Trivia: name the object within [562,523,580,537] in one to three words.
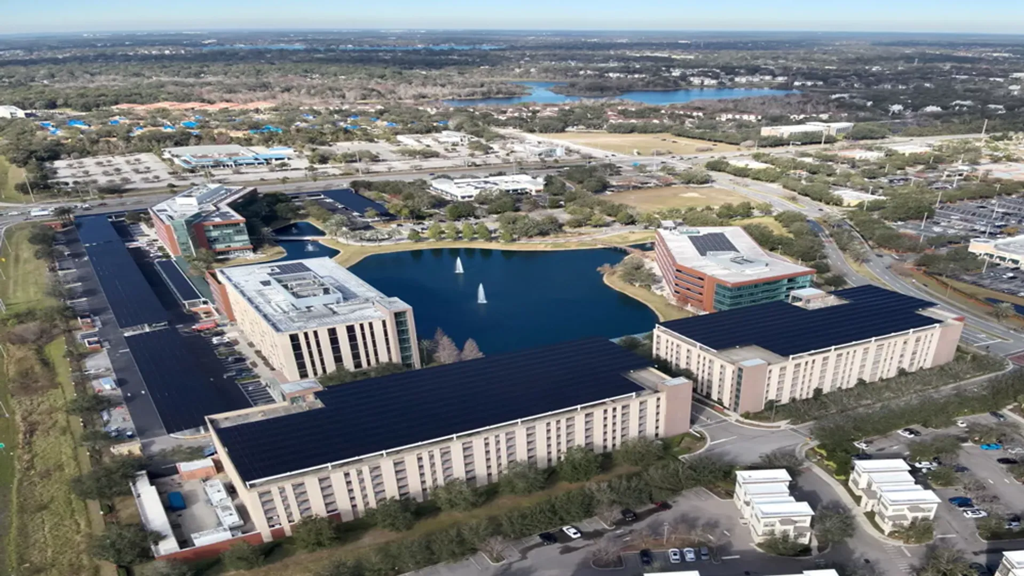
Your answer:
car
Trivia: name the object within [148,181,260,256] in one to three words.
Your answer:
building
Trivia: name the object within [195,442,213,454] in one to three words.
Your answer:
vehicle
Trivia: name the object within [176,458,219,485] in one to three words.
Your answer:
shed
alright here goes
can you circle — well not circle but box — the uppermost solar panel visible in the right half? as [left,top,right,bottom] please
[688,232,740,256]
